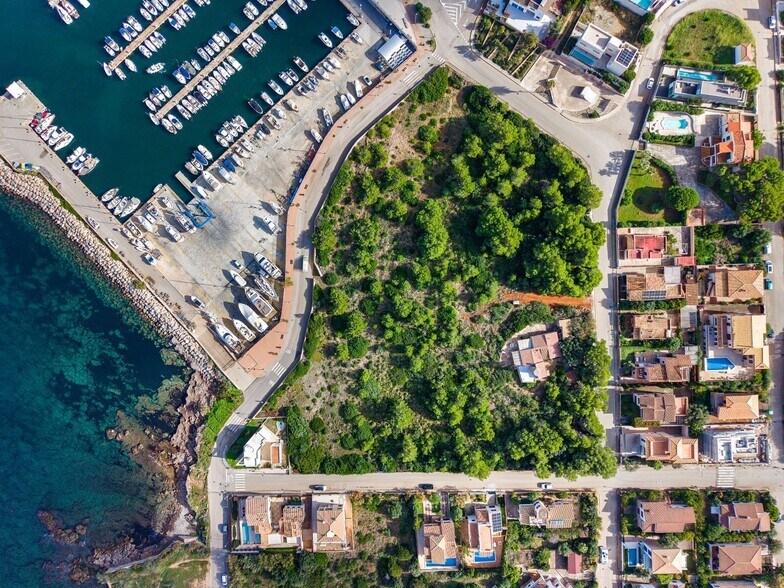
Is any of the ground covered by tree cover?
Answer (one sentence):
Yes, tree cover can be seen from above here.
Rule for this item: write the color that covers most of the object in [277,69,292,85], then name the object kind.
white boat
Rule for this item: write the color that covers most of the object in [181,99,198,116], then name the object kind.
white boat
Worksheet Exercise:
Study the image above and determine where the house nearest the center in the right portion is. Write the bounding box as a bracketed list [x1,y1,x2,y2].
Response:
[510,332,562,384]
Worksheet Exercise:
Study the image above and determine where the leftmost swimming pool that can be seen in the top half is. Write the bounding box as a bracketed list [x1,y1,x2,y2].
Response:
[569,50,597,68]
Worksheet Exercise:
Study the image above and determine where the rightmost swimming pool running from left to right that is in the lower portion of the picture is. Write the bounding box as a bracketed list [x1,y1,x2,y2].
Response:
[706,358,735,371]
